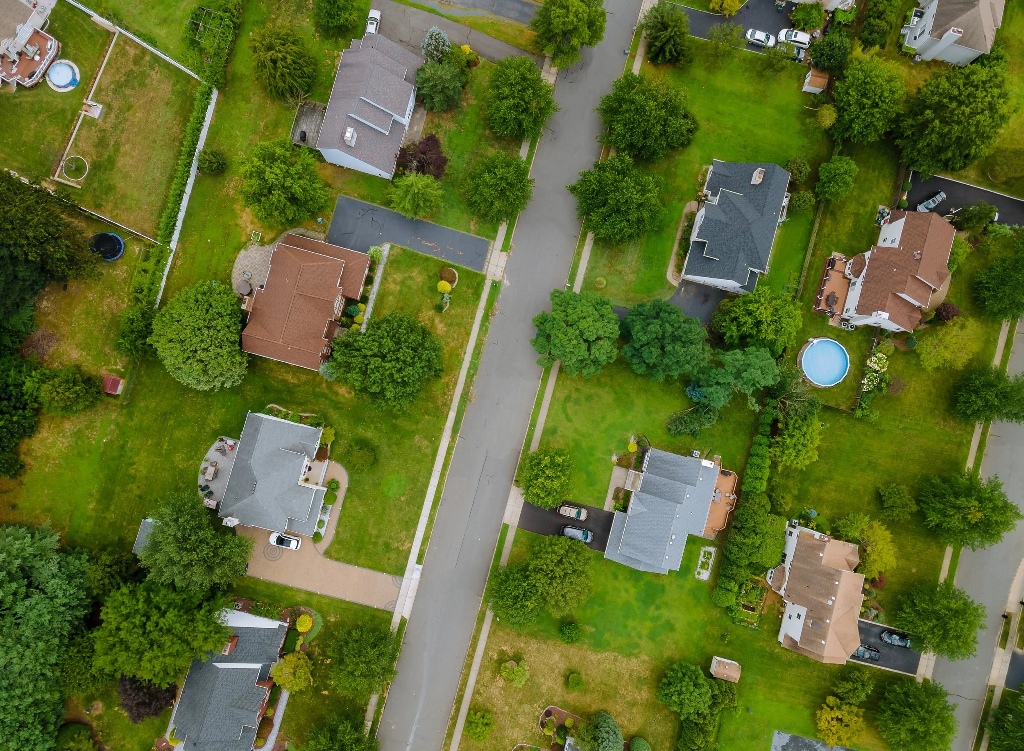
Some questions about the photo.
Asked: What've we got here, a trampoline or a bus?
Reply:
trampoline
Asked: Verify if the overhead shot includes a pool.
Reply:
Yes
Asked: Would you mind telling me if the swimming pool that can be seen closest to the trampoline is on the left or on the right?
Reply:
left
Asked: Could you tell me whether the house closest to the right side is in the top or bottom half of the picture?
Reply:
top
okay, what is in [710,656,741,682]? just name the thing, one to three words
shed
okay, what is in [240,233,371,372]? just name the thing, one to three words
house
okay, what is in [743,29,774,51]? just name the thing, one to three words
car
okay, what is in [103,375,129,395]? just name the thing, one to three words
shed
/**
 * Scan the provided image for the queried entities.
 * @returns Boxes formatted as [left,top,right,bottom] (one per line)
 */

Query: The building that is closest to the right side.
[909,0,1008,69]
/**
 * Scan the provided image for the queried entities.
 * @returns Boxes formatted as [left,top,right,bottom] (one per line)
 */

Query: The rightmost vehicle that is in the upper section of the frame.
[913,190,948,210]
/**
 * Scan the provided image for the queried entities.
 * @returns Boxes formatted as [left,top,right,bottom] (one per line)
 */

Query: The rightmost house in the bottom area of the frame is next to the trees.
[762,525,870,663]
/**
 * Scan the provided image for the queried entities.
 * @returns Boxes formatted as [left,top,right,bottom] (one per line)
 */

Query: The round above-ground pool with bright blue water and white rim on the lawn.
[804,338,853,385]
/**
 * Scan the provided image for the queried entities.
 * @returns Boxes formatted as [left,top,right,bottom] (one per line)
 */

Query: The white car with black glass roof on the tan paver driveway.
[269,533,303,551]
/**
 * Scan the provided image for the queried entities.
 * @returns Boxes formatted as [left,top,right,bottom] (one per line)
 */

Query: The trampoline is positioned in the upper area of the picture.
[91,230,126,262]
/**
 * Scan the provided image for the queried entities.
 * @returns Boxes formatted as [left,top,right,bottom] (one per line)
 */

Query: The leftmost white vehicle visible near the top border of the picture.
[364,9,382,34]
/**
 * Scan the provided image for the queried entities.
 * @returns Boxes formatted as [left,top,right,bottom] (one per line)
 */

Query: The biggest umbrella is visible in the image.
[236,280,252,297]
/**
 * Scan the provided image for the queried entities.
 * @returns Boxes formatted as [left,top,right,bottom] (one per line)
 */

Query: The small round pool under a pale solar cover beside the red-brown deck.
[46,59,75,88]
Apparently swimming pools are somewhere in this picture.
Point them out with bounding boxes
[804,338,853,385]
[46,59,75,88]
